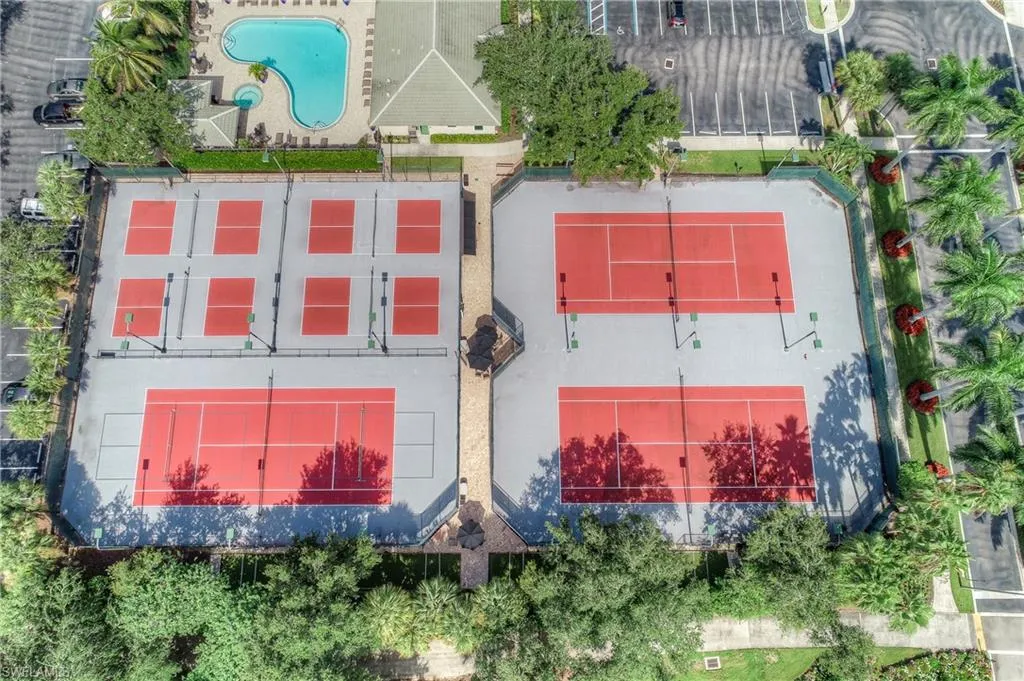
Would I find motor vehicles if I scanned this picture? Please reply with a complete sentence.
Yes, a motor vehicle is visible in the scene.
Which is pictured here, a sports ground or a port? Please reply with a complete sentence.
This looks like a sports ground.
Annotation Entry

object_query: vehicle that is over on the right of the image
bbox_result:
[669,0,691,26]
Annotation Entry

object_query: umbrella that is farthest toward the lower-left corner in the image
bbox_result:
[455,520,486,552]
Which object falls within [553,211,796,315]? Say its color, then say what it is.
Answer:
red tennis court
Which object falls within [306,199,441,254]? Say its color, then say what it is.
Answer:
red sports court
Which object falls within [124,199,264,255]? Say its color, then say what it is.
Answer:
red sports court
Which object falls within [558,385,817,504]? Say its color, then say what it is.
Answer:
red tennis court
